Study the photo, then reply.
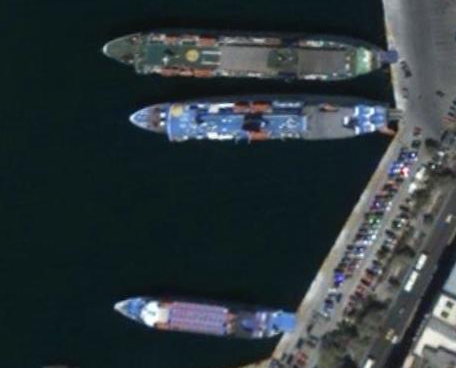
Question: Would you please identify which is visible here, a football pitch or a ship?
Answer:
ship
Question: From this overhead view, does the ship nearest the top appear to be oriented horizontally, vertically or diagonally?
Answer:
horizontally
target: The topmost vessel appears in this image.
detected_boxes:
[103,31,397,80]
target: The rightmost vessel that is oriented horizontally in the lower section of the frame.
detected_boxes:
[115,296,296,337]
